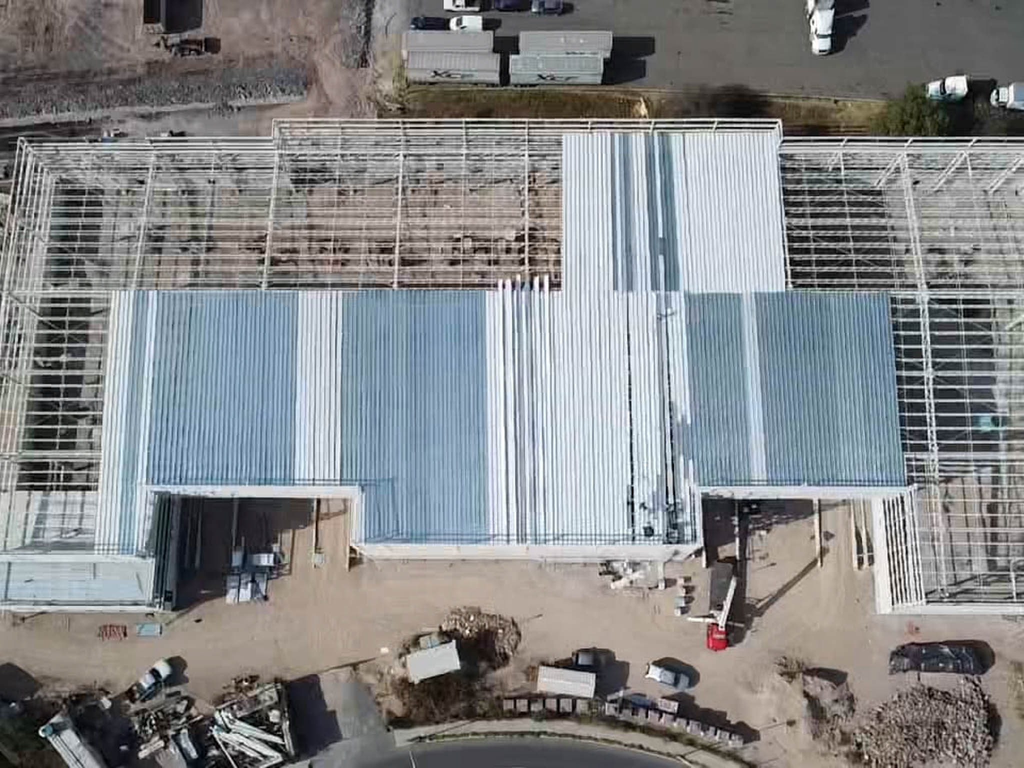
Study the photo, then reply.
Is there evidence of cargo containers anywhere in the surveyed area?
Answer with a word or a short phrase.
Yes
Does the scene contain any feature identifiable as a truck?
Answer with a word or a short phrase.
Yes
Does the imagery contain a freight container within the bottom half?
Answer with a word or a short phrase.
Yes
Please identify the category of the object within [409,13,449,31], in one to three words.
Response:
vehicle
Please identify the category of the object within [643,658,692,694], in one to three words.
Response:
truck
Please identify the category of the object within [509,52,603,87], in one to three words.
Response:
trailer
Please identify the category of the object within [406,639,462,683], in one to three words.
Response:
shed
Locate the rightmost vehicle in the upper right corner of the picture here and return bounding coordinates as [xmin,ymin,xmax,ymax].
[992,83,1024,108]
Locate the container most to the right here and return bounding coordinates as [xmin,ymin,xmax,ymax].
[538,666,596,698]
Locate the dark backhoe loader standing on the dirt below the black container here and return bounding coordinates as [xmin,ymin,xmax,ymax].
[155,36,207,60]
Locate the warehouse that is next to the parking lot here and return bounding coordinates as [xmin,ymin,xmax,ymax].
[0,118,1024,615]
